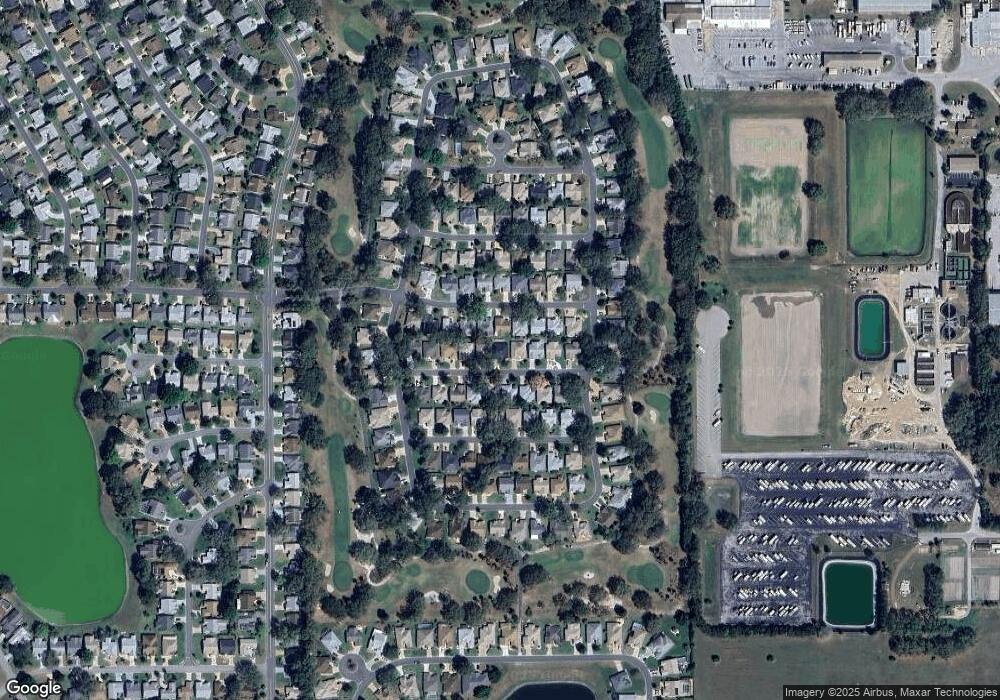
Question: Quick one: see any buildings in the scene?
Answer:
Yes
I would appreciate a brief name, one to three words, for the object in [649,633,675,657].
house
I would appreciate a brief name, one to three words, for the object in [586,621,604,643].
house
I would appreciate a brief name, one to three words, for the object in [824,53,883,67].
building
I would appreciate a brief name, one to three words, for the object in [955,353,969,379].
shed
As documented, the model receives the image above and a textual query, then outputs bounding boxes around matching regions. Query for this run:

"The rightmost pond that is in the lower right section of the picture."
[825,562,873,625]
